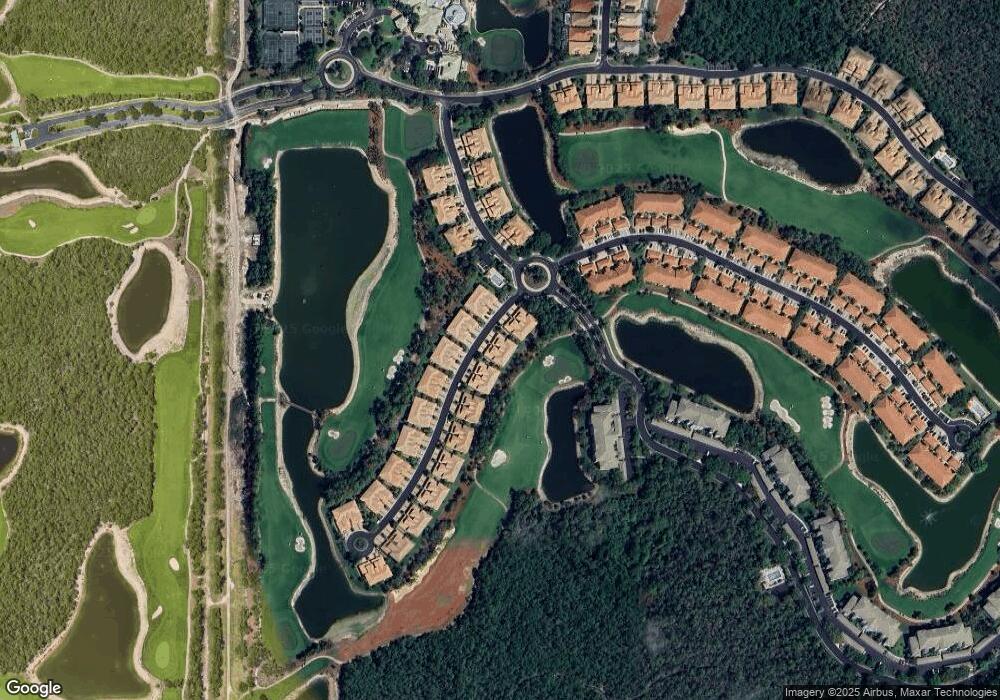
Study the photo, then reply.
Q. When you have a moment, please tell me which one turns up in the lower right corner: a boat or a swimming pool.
swimming pool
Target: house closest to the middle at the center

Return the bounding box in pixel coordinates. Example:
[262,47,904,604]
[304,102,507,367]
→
[483,332,519,367]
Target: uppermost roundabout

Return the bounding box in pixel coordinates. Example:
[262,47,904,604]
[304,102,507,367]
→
[317,51,362,96]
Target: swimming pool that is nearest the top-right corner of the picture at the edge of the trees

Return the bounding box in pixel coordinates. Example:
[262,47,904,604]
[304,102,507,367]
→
[936,150,957,168]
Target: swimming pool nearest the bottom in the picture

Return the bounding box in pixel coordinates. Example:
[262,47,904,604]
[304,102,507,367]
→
[761,565,785,589]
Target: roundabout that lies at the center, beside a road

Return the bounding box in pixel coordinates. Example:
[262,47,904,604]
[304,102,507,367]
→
[514,255,559,300]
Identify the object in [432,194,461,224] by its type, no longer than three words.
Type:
house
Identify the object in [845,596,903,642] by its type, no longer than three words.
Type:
building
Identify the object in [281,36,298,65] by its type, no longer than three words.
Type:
tennis court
